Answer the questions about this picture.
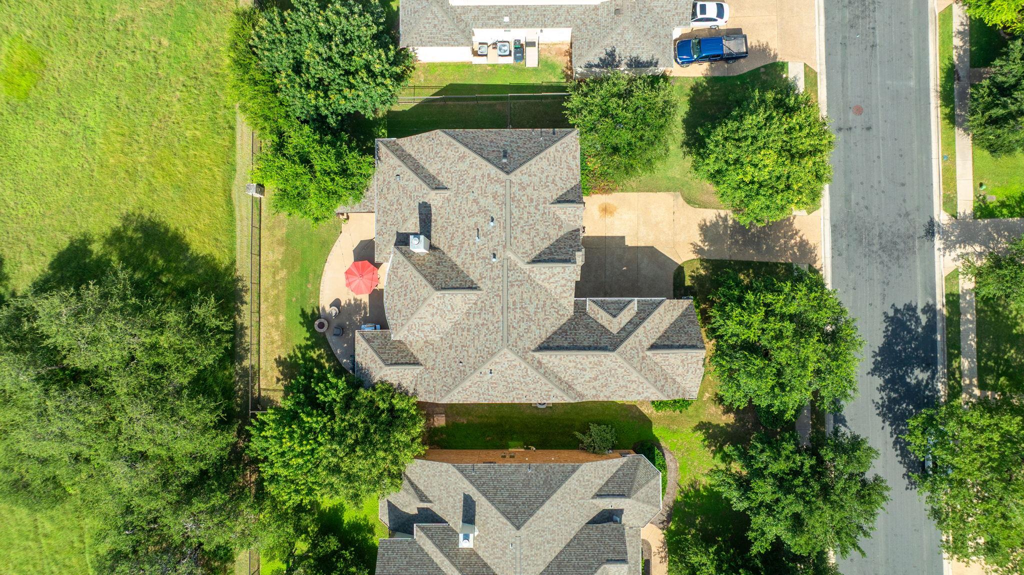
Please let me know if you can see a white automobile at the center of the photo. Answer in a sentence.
No, no white automobile appears at the center of the photo.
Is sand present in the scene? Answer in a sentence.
No, the picture contains no sand.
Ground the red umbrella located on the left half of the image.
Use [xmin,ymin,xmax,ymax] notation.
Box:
[346,260,380,294]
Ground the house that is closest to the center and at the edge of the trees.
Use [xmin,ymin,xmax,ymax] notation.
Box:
[331,127,706,405]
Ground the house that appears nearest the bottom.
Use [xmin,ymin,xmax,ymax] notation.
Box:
[375,450,663,575]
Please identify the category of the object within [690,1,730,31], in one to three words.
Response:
car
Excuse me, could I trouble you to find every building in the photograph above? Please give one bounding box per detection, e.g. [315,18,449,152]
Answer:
[331,127,706,405]
[375,450,663,575]
[399,0,690,80]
